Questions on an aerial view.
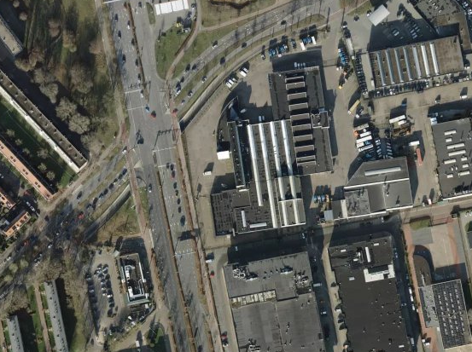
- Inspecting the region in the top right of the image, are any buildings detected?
Yes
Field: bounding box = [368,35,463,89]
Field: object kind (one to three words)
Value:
building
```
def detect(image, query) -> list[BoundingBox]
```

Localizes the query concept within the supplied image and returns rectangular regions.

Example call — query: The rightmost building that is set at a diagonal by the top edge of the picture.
[415,0,472,54]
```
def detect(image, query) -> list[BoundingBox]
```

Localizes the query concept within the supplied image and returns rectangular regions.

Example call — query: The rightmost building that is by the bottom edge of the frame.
[431,279,472,351]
